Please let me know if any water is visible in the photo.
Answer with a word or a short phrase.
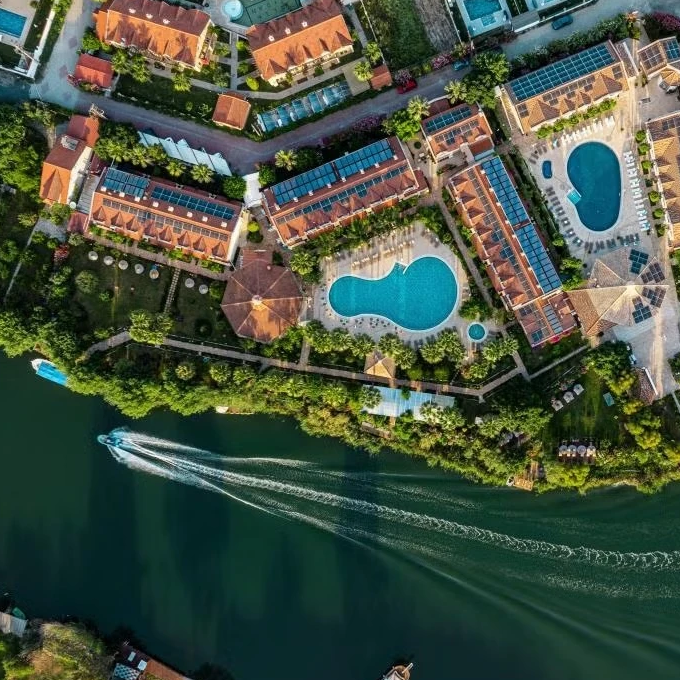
Yes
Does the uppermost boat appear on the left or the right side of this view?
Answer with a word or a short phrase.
left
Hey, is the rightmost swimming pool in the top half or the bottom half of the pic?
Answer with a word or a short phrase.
top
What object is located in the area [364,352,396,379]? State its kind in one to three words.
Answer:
building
